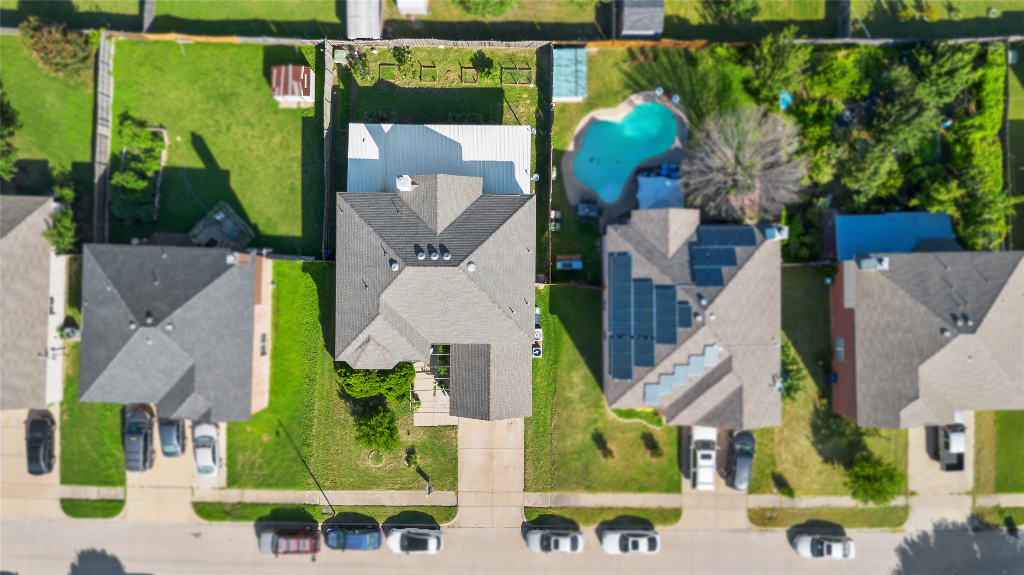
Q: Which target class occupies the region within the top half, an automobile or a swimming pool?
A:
swimming pool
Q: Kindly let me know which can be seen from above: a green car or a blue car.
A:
blue car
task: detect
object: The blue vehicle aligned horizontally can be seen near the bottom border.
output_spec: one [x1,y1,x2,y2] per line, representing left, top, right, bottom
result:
[327,525,382,552]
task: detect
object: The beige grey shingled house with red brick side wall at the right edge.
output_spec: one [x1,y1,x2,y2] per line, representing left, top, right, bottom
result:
[830,242,1024,434]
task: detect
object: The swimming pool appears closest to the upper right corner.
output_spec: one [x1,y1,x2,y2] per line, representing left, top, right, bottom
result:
[573,103,675,203]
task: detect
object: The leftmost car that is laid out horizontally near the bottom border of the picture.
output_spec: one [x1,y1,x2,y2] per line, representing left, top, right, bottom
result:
[260,526,322,556]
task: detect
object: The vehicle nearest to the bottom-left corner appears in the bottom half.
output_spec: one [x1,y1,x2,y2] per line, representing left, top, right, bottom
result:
[24,412,58,472]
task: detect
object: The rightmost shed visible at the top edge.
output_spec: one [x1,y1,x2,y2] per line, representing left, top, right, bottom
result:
[618,0,664,40]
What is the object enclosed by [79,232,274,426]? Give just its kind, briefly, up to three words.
house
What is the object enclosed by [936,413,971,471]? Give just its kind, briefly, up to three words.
truck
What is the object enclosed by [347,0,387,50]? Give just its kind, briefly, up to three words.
shed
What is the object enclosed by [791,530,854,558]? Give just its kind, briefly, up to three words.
car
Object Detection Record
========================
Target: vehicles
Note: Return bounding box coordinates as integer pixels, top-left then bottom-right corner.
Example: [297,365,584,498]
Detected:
[327,525,382,552]
[526,526,583,554]
[24,412,58,472]
[192,422,223,479]
[691,426,720,490]
[791,530,854,558]
[260,526,322,556]
[601,527,660,555]
[726,432,756,488]
[158,418,188,455]
[387,525,443,554]
[123,405,156,467]
[936,413,971,471]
